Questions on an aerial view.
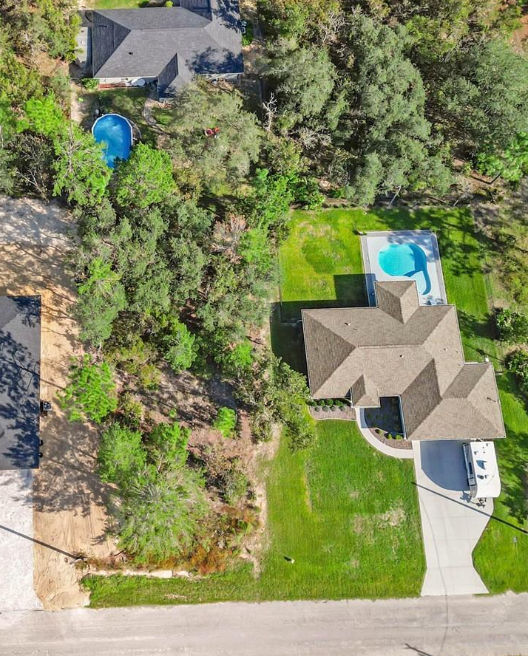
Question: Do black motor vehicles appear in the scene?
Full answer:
No, this view has no black motor vehicle in it.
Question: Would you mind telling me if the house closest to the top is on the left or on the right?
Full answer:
It is on the left.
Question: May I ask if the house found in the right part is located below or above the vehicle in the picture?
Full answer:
In the image, the house found in the right part appears above the vehicle.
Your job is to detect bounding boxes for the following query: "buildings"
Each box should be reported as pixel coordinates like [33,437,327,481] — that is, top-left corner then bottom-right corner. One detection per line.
[0,296,40,469]
[91,0,244,104]
[302,281,501,440]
